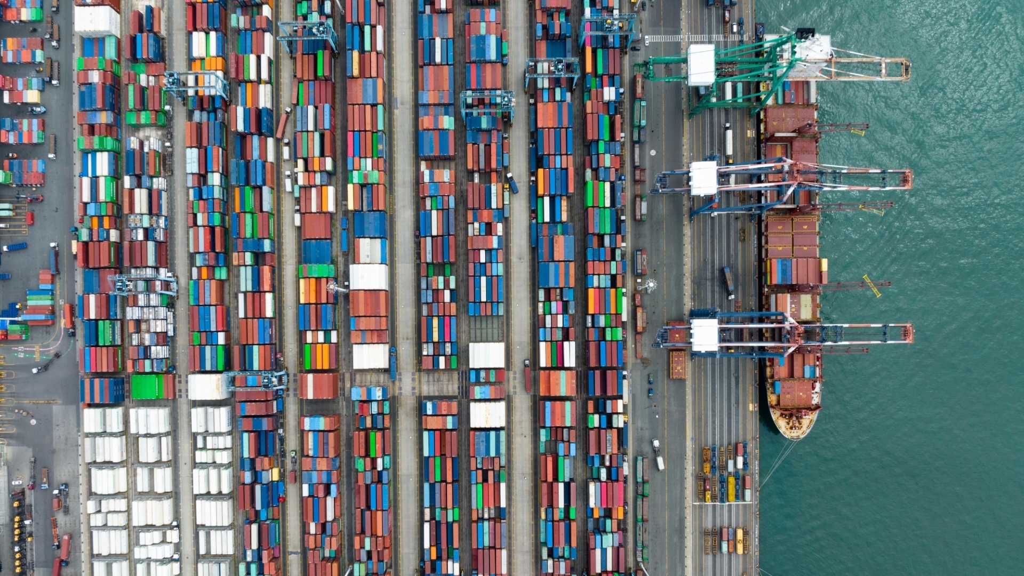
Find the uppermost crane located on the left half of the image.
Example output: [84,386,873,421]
[277,18,338,61]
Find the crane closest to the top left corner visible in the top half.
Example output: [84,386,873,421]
[162,67,230,107]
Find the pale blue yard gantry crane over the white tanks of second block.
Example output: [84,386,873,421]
[109,270,178,302]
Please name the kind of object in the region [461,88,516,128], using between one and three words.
container crane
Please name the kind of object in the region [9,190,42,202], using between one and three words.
vehicle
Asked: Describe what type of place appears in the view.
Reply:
port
